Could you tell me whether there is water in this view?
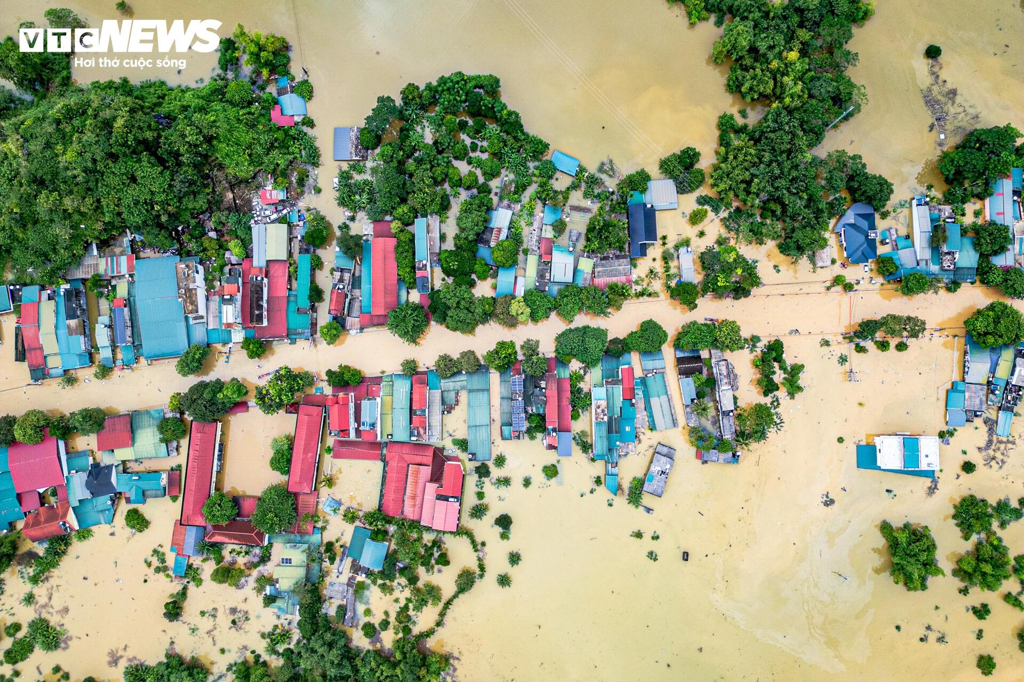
Yes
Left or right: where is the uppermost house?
left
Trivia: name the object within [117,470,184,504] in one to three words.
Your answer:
house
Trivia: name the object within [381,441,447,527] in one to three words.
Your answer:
building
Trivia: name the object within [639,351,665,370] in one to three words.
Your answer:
house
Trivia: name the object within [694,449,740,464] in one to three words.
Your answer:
shed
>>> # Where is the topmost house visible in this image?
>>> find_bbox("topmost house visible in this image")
[271,76,309,128]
